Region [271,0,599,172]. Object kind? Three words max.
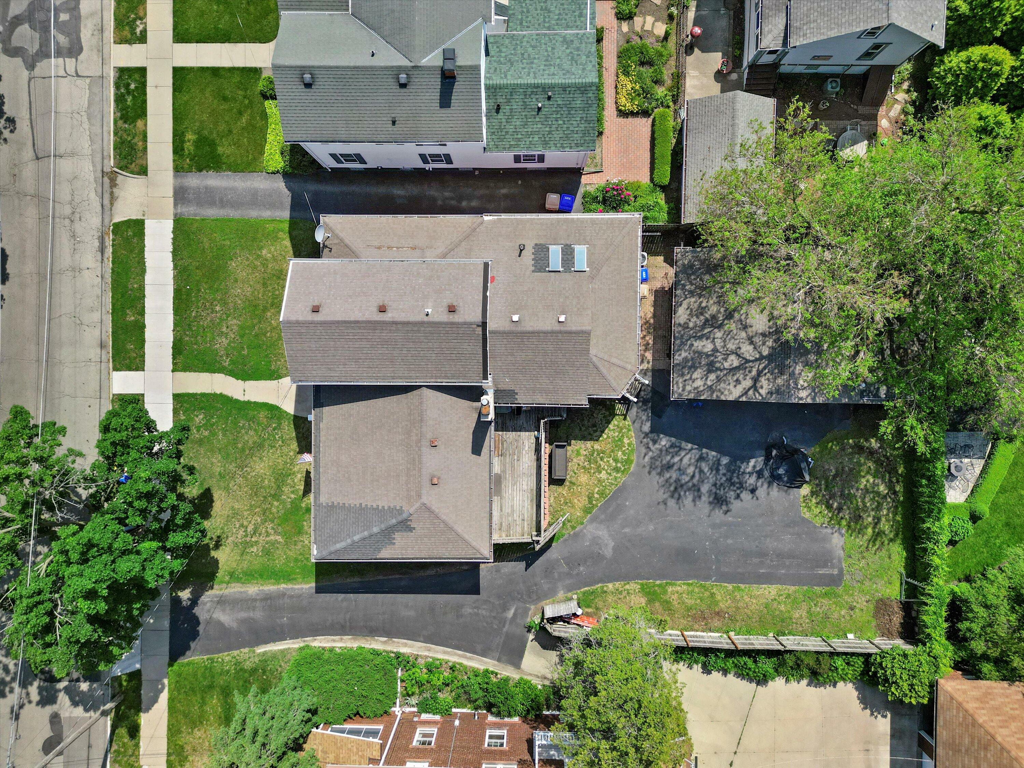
house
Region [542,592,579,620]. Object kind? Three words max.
shed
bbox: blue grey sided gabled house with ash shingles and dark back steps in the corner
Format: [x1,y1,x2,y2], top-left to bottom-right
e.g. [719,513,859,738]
[744,0,946,106]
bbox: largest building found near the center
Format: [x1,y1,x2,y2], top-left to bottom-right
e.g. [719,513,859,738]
[278,213,642,561]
